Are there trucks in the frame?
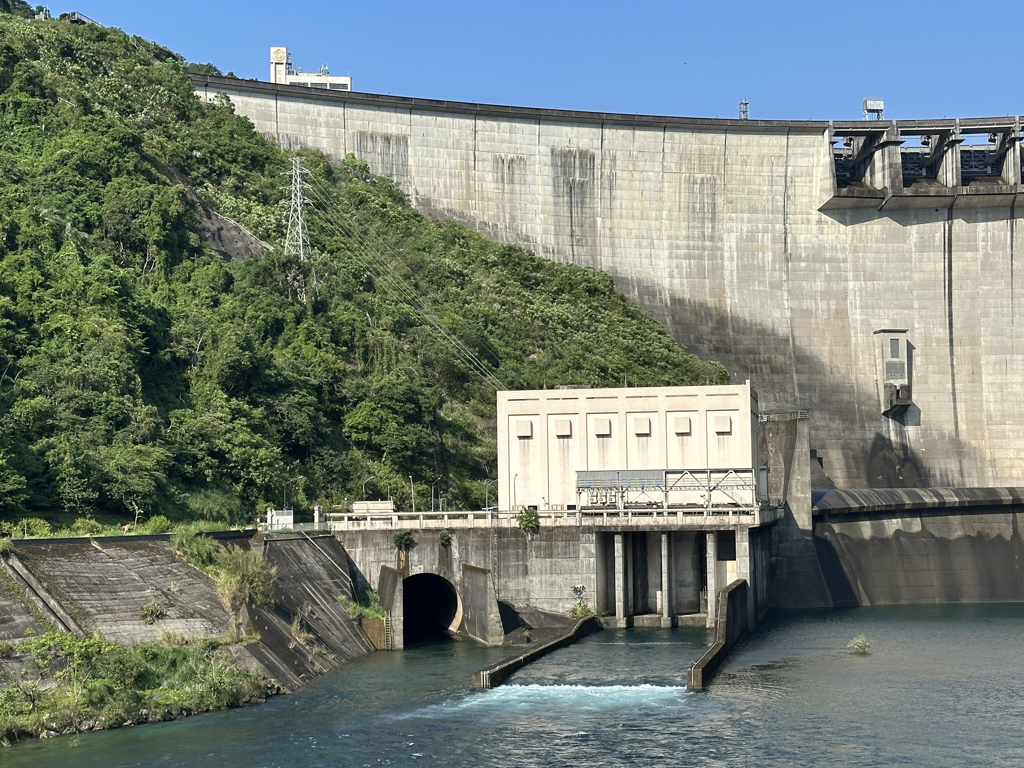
No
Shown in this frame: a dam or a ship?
dam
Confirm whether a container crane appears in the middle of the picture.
No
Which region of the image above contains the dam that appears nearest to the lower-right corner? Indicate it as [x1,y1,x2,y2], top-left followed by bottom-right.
[811,486,1024,608]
